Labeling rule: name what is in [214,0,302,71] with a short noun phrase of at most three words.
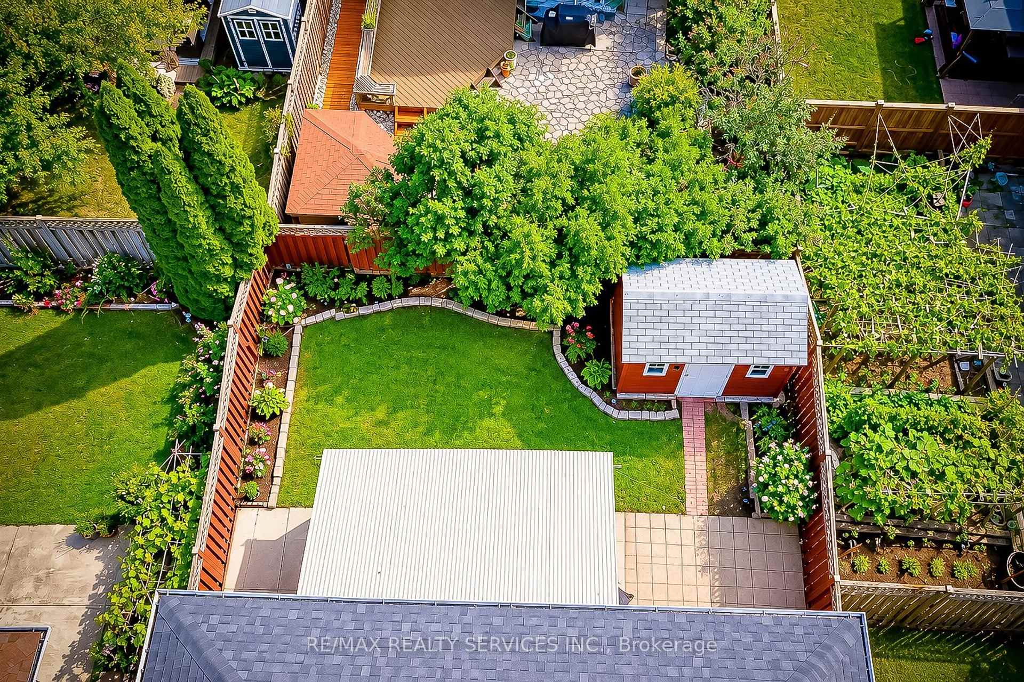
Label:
shed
